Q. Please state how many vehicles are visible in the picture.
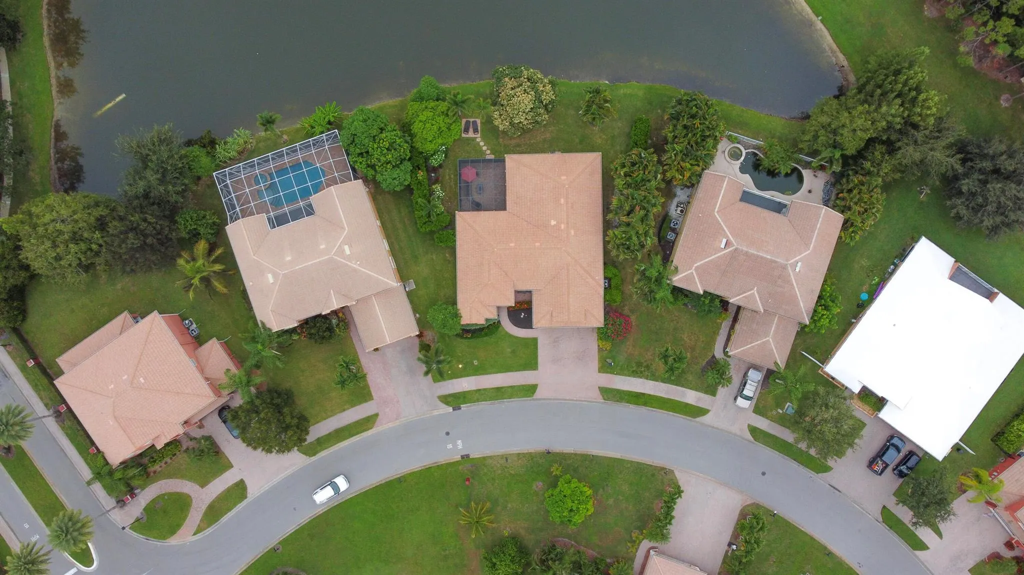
5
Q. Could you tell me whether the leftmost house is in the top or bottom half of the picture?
bottom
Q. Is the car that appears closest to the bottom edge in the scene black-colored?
No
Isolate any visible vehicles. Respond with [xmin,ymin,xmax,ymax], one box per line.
[218,406,239,441]
[734,367,763,408]
[867,434,905,476]
[892,448,922,479]
[311,475,352,506]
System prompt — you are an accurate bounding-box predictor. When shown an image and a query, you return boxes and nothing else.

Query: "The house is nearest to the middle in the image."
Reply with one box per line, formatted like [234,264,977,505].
[455,152,605,329]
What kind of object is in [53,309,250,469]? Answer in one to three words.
house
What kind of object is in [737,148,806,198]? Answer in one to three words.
swimming pool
